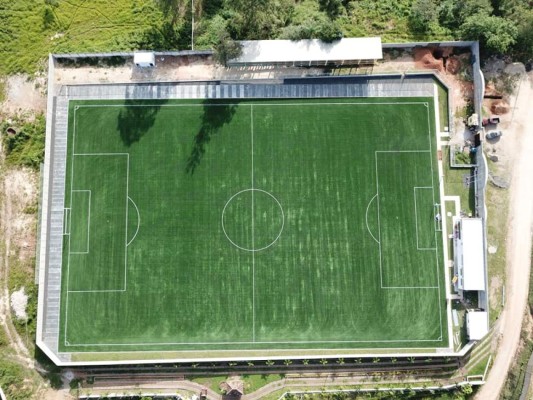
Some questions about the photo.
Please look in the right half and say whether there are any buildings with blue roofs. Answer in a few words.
No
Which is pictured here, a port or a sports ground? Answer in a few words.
sports ground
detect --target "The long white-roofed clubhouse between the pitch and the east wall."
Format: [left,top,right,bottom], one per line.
[454,217,484,291]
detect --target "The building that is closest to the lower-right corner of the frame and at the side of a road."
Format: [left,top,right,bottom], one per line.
[464,310,488,340]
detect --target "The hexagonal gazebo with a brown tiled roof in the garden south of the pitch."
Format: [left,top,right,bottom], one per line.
[223,374,244,399]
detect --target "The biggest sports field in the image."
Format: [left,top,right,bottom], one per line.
[57,96,449,353]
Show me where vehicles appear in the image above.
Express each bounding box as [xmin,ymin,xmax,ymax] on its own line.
[483,117,501,125]
[467,110,479,131]
[486,132,502,140]
[132,54,154,66]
